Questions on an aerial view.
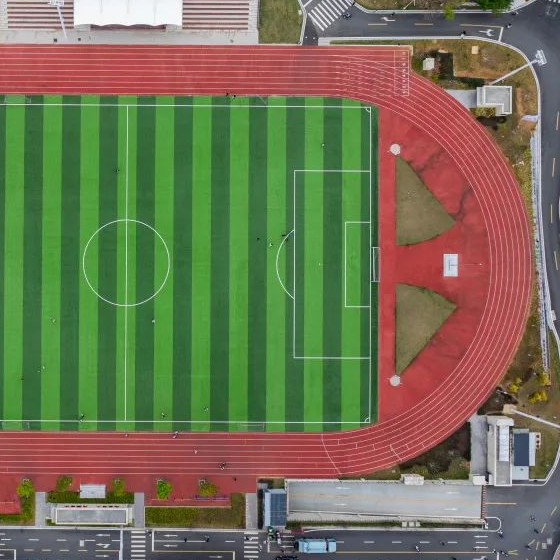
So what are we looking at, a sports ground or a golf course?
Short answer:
sports ground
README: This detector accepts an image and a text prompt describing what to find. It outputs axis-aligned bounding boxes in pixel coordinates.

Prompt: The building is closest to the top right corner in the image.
[474,86,513,117]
